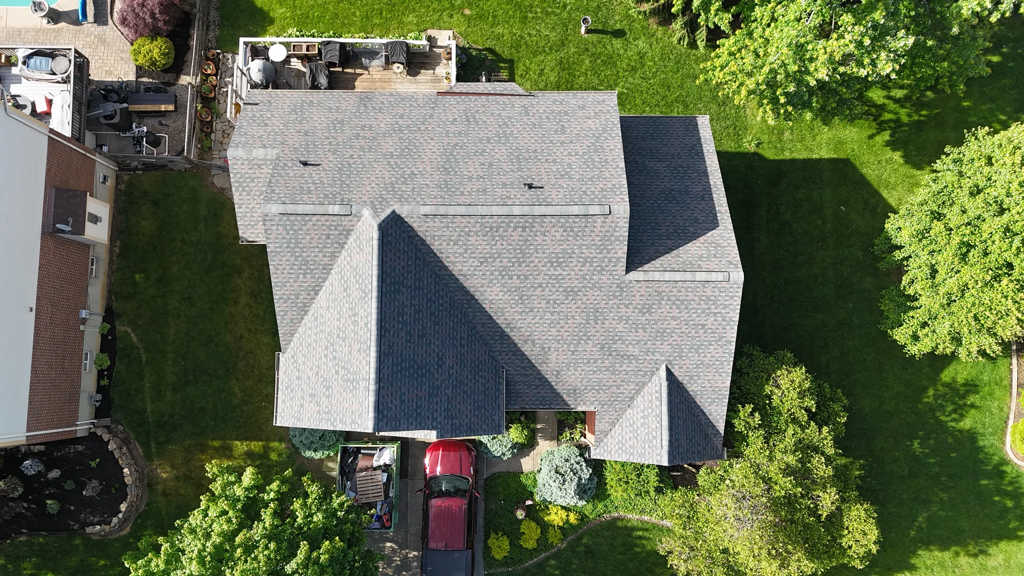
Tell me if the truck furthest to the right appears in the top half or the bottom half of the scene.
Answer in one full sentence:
The truck furthest to the right sits in the bottom half of the picture.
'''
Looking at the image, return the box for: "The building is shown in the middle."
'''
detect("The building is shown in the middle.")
[229,82,744,467]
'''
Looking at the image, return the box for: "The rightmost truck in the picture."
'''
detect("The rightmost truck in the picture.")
[413,438,485,576]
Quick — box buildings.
[229,82,744,467]
[0,96,123,448]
